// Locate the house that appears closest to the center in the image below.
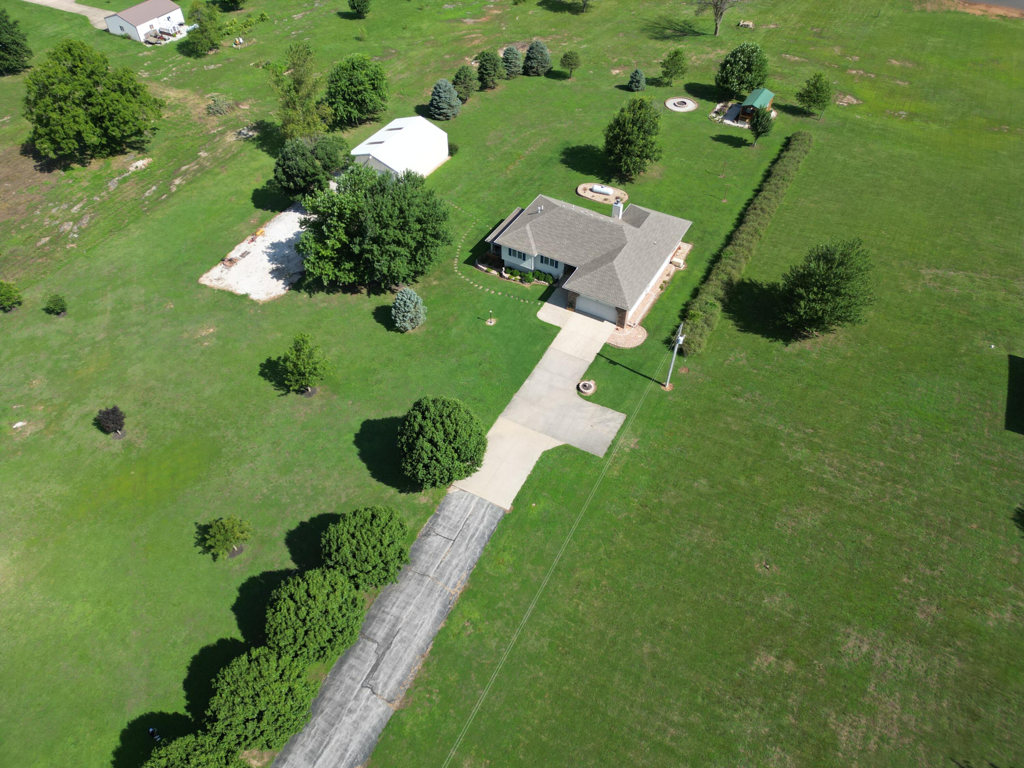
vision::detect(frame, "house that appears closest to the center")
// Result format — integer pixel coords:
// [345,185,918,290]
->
[484,193,691,328]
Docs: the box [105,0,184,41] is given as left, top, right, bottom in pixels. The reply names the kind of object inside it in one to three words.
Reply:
shed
